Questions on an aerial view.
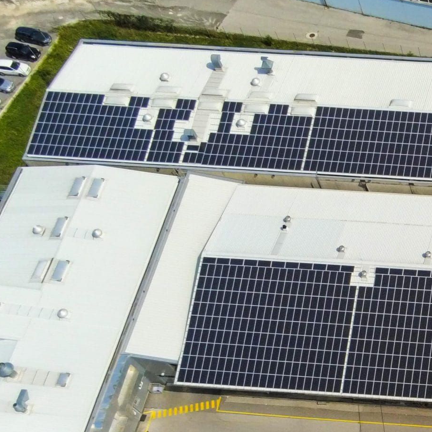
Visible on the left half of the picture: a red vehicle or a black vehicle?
black vehicle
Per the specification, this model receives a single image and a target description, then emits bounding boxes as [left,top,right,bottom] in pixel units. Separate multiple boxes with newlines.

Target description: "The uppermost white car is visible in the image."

[0,59,31,78]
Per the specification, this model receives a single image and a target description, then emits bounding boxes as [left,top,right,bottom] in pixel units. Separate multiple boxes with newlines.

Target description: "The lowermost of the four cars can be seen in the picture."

[0,78,15,95]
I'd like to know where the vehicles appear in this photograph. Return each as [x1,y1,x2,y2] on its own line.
[14,26,52,46]
[0,59,31,78]
[0,78,15,95]
[5,41,41,63]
